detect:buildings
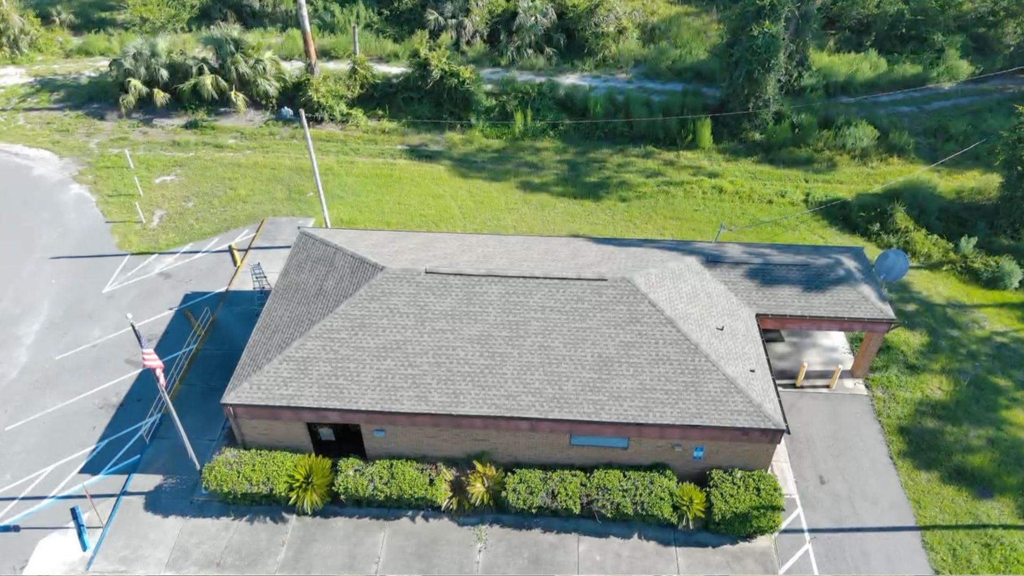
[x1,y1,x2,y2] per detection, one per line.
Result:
[220,216,903,480]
